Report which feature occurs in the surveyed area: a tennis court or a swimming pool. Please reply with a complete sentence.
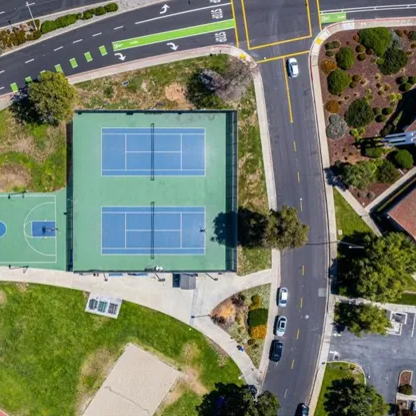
The one in the frame is a tennis court.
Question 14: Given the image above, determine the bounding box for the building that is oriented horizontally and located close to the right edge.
[382,130,416,146]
